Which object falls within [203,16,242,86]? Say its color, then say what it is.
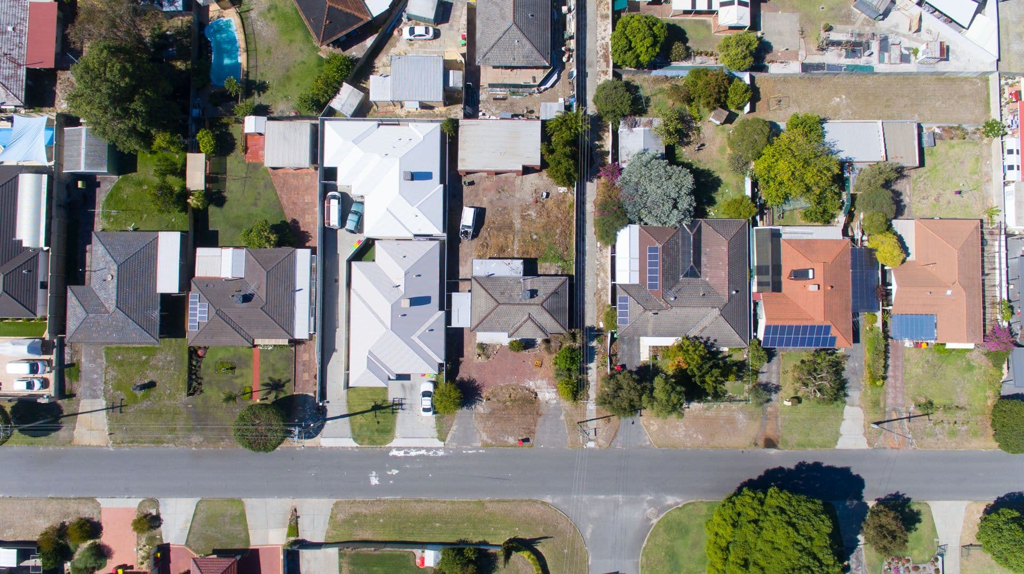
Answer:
blue swimming pool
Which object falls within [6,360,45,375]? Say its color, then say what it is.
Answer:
white vehicle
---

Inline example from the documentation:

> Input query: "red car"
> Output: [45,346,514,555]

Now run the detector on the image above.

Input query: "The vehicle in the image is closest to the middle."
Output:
[460,205,477,239]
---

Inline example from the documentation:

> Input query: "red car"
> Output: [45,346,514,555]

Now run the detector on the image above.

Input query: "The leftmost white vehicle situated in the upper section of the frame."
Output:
[324,192,341,229]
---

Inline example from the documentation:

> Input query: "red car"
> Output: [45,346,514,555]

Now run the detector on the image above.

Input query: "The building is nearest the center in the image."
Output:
[451,259,569,345]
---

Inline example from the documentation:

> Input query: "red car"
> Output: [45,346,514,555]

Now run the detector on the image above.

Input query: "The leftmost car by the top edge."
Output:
[402,25,435,41]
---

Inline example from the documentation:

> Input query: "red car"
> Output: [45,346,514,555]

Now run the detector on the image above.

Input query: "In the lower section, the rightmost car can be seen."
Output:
[419,381,434,415]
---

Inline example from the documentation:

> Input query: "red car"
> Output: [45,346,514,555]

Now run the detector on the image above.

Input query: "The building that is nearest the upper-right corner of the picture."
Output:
[904,0,979,33]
